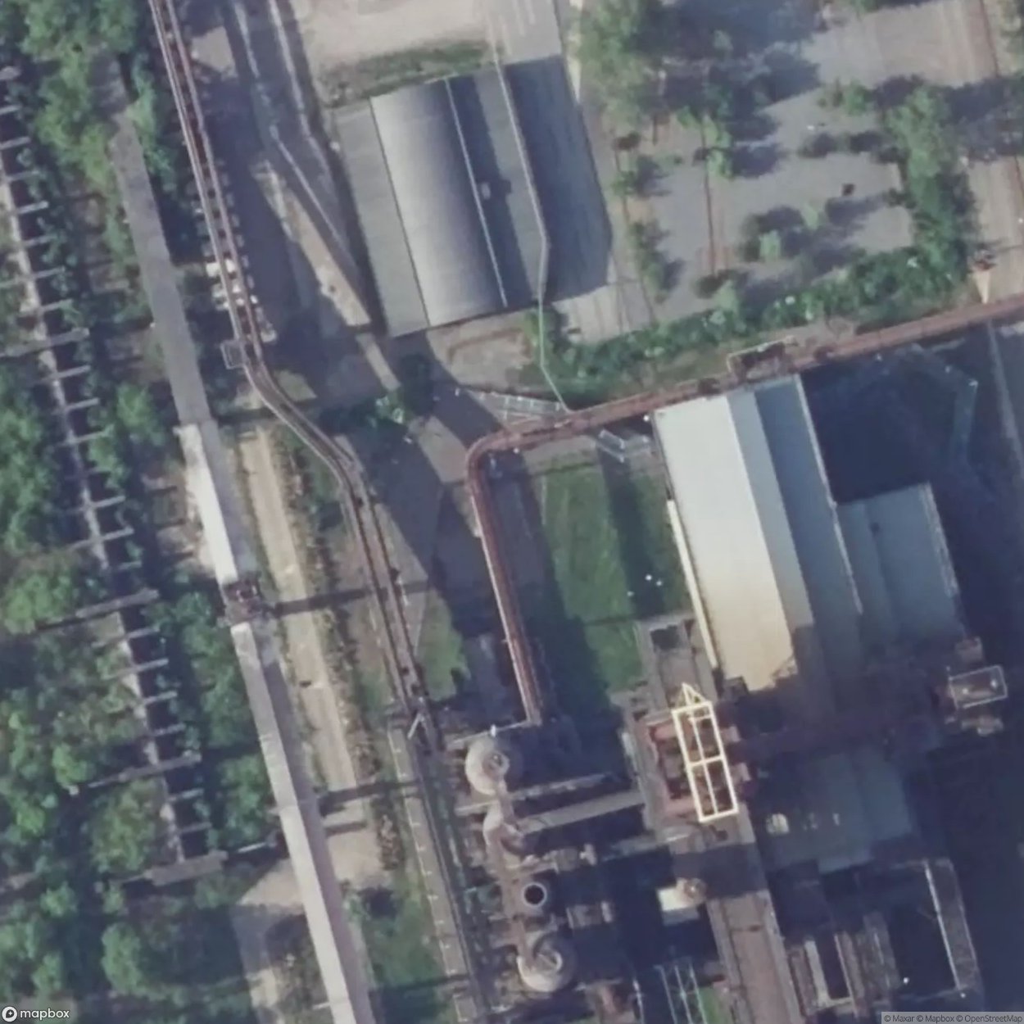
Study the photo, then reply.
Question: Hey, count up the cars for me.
none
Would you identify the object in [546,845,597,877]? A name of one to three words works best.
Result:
building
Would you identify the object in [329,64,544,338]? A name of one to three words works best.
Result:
building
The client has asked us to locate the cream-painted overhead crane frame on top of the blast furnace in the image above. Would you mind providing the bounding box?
[672,684,739,821]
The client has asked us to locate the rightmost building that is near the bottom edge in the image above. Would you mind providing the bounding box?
[891,858,982,996]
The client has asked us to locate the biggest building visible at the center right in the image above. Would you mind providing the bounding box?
[652,375,885,713]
